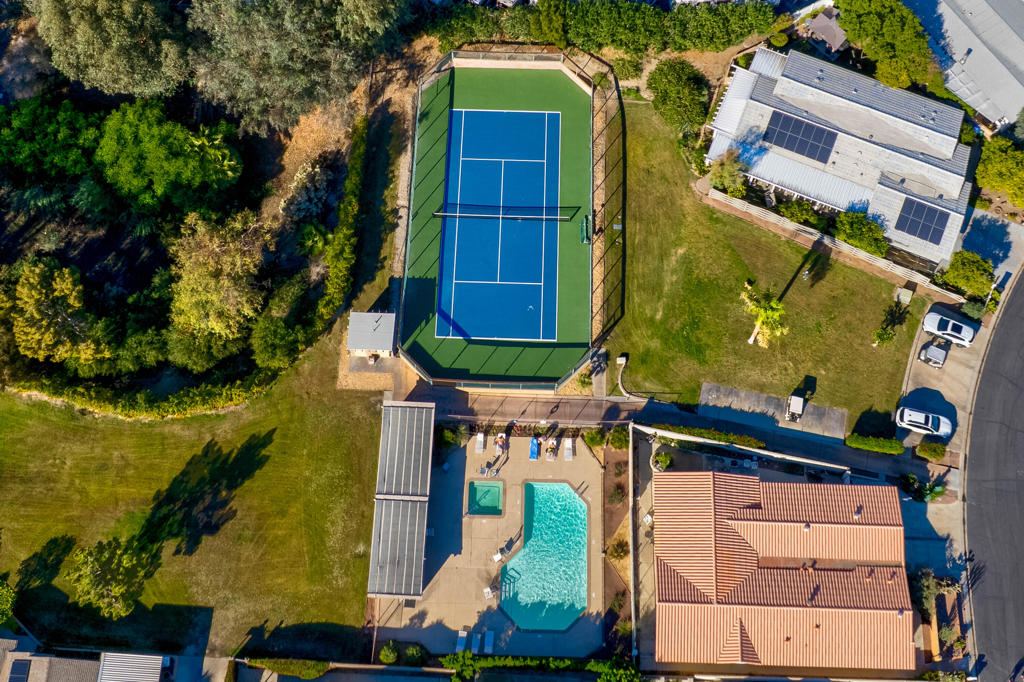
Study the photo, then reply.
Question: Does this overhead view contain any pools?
Yes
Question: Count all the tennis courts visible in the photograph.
1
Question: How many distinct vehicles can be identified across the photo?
4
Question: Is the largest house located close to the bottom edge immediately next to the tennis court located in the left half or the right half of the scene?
right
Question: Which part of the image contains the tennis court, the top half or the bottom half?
top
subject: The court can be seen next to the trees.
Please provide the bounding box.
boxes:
[397,58,593,396]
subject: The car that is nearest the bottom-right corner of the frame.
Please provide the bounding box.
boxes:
[894,407,953,441]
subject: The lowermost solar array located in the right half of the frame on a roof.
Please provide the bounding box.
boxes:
[893,196,952,246]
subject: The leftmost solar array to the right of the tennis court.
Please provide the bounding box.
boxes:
[762,108,840,164]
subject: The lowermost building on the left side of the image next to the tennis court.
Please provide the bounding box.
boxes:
[364,399,436,599]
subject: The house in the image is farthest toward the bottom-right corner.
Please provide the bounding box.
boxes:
[653,472,917,670]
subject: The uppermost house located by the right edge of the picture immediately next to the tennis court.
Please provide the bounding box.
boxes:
[702,45,973,264]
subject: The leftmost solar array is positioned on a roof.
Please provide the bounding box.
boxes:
[9,661,32,682]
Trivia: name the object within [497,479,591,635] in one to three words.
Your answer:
swimming pool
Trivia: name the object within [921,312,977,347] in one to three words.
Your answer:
car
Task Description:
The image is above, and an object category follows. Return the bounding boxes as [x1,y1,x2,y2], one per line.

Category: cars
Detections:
[921,312,977,347]
[894,407,953,441]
